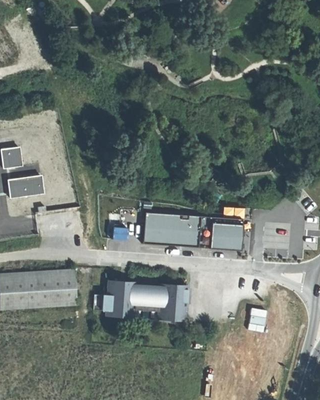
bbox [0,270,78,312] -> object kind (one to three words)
barn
